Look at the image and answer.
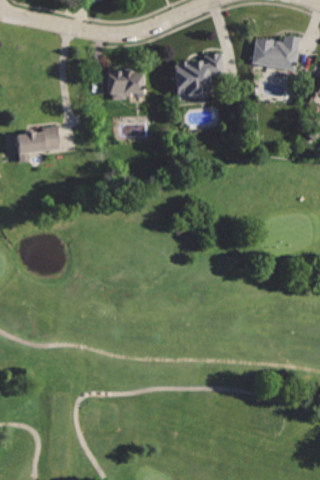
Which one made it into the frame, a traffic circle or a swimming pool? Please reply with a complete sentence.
The image shows a swimming pool.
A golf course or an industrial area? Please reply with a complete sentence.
This image shows a golf course.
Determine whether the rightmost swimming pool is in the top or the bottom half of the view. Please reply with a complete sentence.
Seen from above, the rightmost swimming pool lies in the top half of the view.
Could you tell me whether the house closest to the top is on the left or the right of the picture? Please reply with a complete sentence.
You can find the house closest to the top on the right side of the picture.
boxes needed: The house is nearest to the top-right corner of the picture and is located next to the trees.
[254,36,302,72]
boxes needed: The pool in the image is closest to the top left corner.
[112,116,148,142]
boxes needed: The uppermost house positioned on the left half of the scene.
[109,72,146,102]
